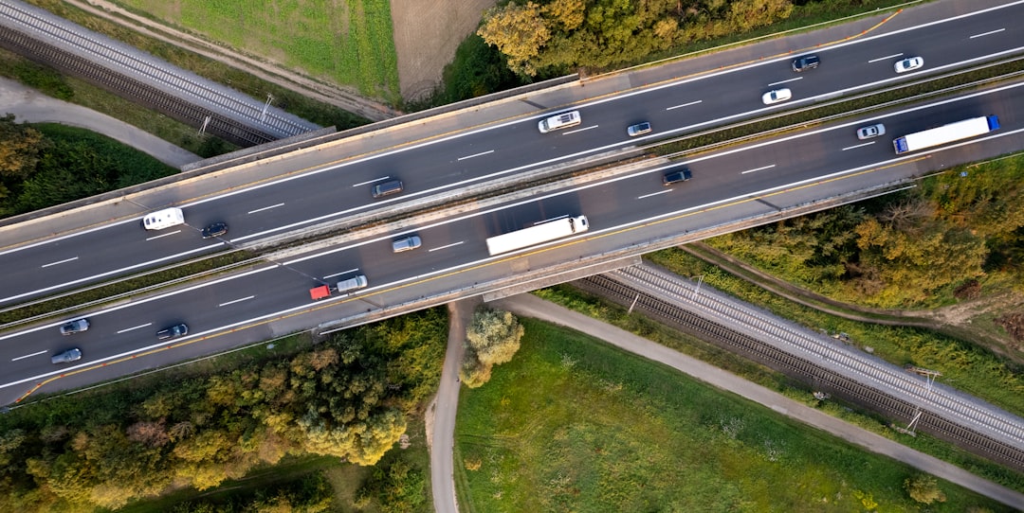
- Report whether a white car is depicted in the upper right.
Yes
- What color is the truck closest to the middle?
white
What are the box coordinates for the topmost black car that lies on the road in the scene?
[790,54,819,71]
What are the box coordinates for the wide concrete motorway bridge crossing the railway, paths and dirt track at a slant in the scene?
[0,69,917,337]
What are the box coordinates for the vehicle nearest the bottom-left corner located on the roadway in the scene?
[51,347,83,364]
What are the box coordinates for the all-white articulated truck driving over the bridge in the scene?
[487,216,587,256]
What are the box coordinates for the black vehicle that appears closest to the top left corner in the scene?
[201,221,229,237]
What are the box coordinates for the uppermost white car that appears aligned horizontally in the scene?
[892,57,923,73]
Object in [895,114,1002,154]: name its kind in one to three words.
truck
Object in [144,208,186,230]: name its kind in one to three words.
camper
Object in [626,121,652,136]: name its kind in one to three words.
car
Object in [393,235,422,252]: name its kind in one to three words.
car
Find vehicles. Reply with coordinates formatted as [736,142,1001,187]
[539,110,582,132]
[790,54,819,71]
[144,208,186,230]
[895,114,1002,154]
[373,180,404,197]
[662,167,691,184]
[892,57,923,73]
[761,88,792,105]
[51,347,83,364]
[626,121,652,136]
[337,275,368,292]
[157,324,189,341]
[854,123,884,139]
[487,216,587,256]
[393,235,422,252]
[60,318,91,335]
[201,221,229,237]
